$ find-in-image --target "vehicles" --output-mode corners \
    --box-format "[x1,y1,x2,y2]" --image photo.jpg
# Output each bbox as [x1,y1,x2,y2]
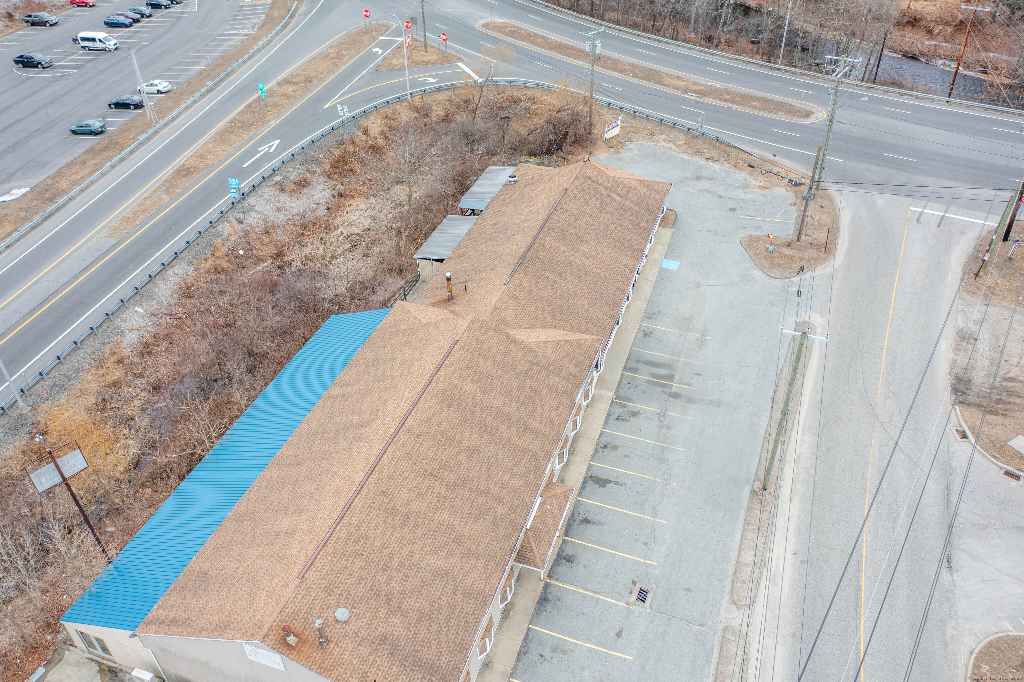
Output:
[68,120,105,135]
[75,31,118,51]
[143,0,171,9]
[105,94,143,109]
[70,0,94,7]
[70,34,78,44]
[127,6,152,18]
[12,53,52,69]
[102,15,132,27]
[115,10,142,22]
[134,78,170,93]
[21,13,58,26]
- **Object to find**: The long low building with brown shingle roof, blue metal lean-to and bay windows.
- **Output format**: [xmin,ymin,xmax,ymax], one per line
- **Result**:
[57,151,674,682]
